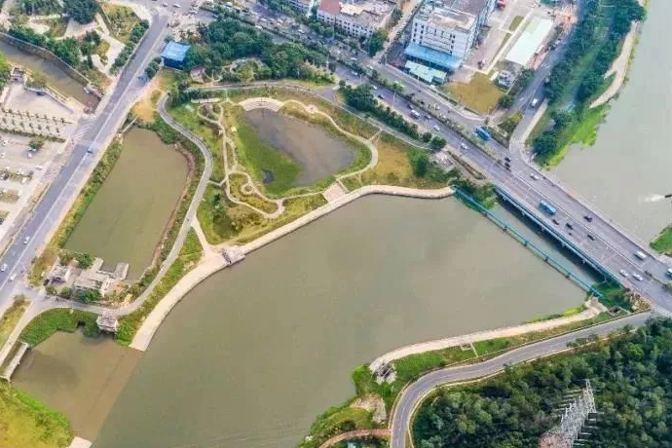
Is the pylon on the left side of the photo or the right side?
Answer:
right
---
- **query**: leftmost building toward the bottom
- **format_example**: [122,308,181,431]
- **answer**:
[50,266,72,286]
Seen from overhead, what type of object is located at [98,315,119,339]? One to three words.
building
